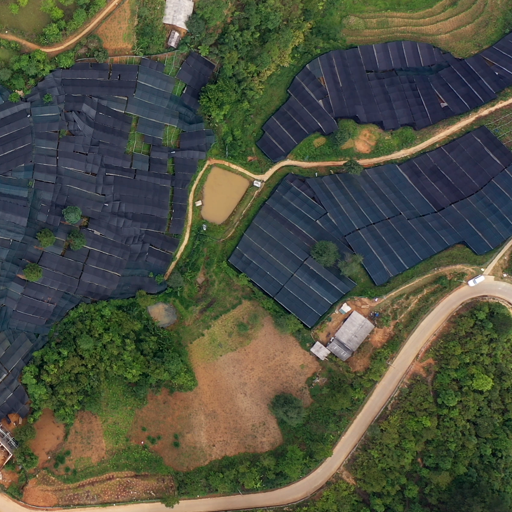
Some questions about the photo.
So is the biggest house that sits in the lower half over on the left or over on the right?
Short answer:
right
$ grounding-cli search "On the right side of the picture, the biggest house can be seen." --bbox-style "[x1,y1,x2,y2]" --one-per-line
[327,311,375,361]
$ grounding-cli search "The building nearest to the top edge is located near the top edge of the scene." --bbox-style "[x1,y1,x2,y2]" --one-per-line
[162,0,194,31]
